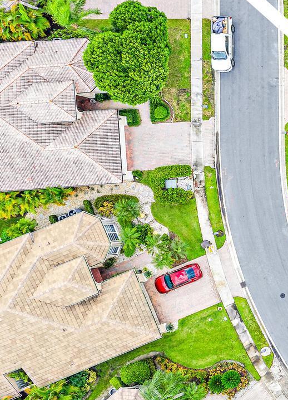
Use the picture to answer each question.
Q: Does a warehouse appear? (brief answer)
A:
No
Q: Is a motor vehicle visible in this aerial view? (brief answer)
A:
Yes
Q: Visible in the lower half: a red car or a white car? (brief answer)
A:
red car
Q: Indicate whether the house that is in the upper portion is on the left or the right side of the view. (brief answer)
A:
left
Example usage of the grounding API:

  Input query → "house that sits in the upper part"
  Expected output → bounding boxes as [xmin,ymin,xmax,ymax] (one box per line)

[0,37,128,191]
